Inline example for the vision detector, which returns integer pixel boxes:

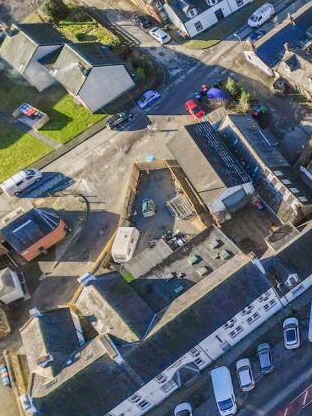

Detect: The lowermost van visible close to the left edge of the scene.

[0,167,43,196]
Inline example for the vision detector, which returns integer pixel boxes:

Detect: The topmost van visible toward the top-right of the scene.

[246,0,277,29]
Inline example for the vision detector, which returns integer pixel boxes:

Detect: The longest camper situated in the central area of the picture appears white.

[107,220,141,265]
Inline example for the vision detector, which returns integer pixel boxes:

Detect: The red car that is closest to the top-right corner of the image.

[182,97,206,121]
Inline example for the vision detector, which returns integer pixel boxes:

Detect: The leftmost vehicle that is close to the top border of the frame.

[132,15,152,31]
